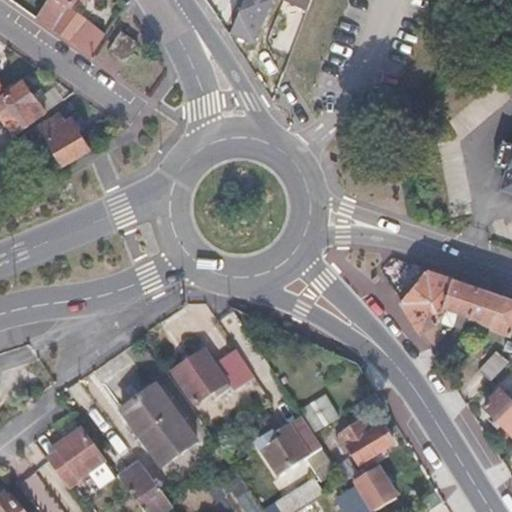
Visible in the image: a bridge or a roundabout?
roundabout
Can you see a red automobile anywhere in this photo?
Yes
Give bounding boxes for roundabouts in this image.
[148,114,334,299]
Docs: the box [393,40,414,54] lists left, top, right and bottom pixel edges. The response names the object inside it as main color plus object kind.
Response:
white vehicle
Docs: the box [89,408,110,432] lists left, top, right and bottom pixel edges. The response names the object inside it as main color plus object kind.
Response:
white vehicle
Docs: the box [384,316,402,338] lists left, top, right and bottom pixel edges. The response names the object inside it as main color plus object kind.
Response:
white car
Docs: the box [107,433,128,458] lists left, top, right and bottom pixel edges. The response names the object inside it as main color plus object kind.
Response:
white truck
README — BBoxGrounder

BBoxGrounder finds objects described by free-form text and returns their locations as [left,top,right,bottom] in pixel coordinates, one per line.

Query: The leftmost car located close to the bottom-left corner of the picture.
[38,435,54,454]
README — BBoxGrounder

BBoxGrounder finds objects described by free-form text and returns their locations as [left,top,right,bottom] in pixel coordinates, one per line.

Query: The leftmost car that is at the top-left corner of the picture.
[53,40,70,54]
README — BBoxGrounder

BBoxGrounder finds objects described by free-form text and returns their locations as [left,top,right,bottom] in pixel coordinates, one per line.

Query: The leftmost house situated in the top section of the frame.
[0,79,47,131]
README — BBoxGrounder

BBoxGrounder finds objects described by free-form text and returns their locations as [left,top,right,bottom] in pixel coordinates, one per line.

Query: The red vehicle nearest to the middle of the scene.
[365,296,386,316]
